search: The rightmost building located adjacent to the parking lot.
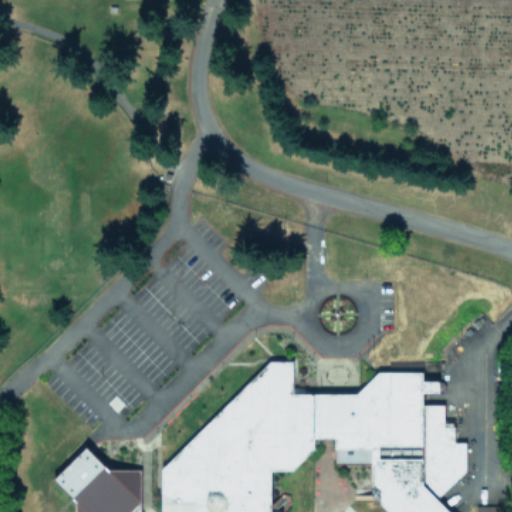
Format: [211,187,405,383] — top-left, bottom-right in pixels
[162,361,468,512]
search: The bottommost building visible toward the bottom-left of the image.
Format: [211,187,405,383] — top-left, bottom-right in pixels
[56,448,152,512]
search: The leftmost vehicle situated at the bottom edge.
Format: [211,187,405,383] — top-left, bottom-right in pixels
[446,494,462,507]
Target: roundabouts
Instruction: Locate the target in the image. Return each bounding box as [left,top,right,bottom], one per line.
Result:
[310,288,366,342]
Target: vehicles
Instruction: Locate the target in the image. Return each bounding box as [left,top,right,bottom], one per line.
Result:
[228,298,239,309]
[220,288,230,298]
[320,239,326,250]
[385,316,394,321]
[381,288,394,294]
[481,489,488,505]
[201,270,213,282]
[320,255,326,266]
[446,494,462,507]
[252,276,266,290]
[382,282,392,288]
[188,256,198,266]
[384,310,394,314]
[224,292,236,304]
